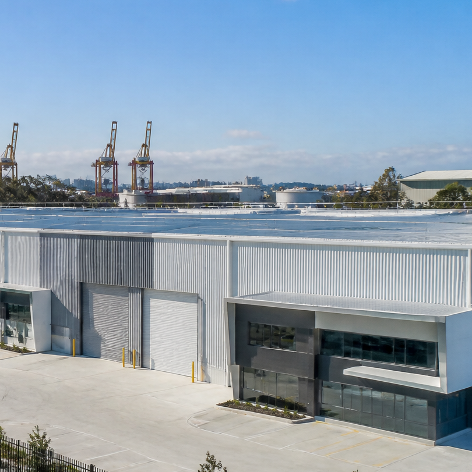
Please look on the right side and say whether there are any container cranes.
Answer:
No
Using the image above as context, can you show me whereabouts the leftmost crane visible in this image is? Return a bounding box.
[0,122,23,189]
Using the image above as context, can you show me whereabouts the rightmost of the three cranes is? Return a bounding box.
[122,121,158,189]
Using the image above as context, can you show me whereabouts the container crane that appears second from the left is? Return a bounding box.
[85,122,122,194]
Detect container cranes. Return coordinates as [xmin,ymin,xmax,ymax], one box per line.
[85,122,122,194]
[0,122,23,189]
[122,121,158,189]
